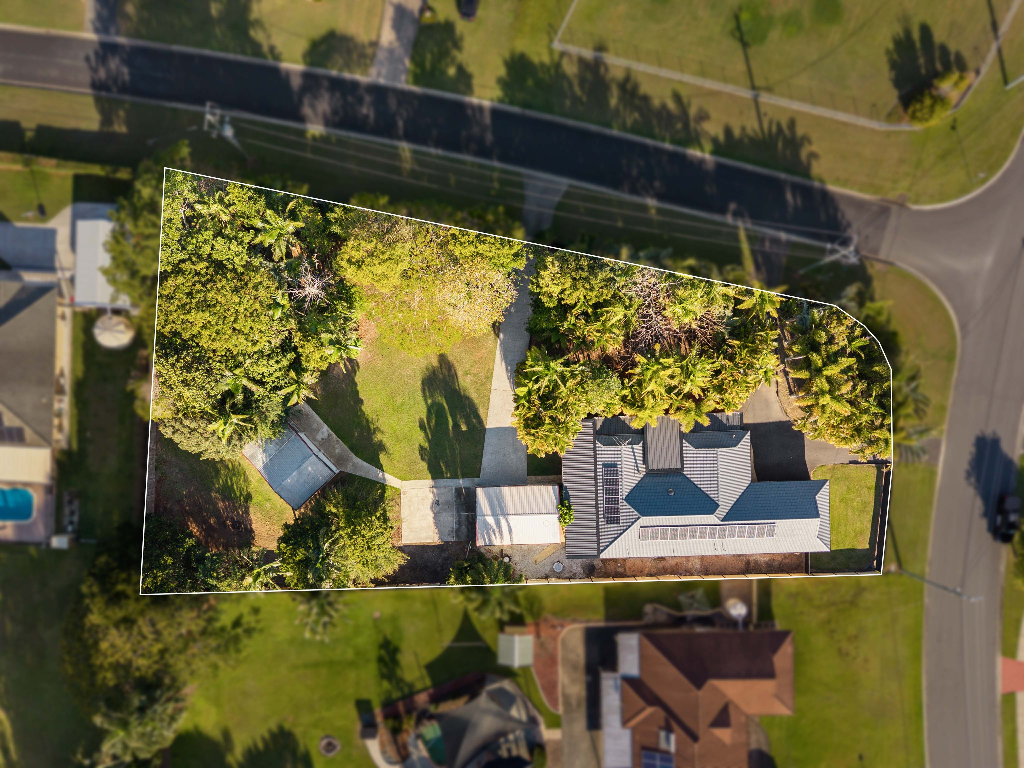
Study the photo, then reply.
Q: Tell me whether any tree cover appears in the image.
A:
Yes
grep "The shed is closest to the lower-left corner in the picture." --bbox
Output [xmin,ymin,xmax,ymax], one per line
[50,533,76,550]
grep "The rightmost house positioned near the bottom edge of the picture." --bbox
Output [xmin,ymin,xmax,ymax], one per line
[601,627,794,768]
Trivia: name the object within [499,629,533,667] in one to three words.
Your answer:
shed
